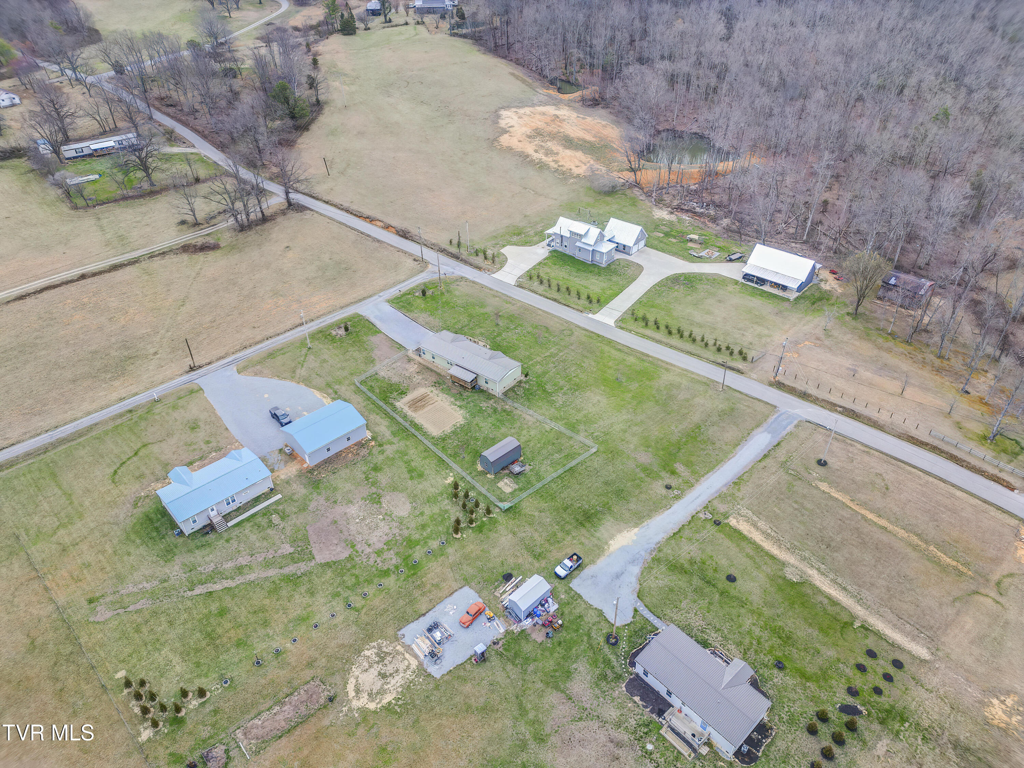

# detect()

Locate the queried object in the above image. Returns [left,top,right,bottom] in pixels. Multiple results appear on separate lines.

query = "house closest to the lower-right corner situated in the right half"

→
[631,624,772,758]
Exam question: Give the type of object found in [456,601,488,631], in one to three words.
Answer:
car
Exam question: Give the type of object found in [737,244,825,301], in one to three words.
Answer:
barn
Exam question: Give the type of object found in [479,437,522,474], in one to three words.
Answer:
shed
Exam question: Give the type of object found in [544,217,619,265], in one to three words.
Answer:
house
